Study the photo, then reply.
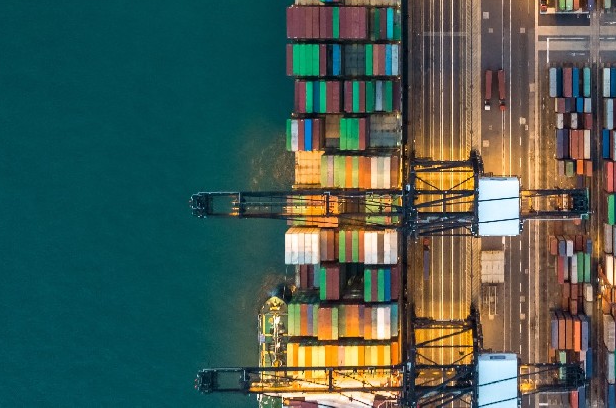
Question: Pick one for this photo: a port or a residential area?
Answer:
port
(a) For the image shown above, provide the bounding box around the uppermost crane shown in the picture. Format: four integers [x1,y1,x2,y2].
[186,142,597,238]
